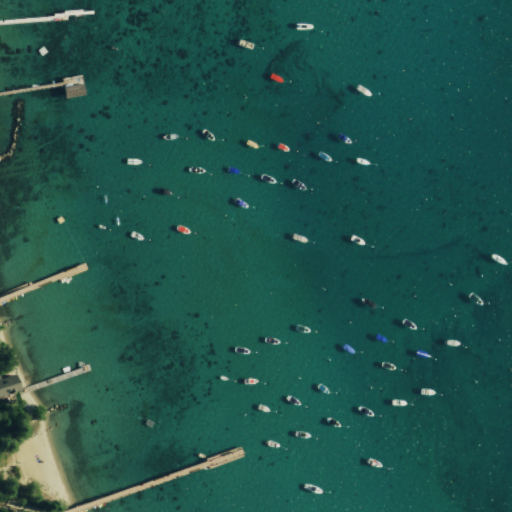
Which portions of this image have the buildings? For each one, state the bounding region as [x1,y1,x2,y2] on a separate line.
[2,376,20,388]
[65,83,86,98]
